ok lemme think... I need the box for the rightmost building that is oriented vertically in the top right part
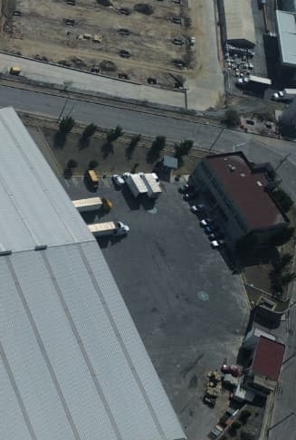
[265,10,296,85]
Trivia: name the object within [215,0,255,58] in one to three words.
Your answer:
building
